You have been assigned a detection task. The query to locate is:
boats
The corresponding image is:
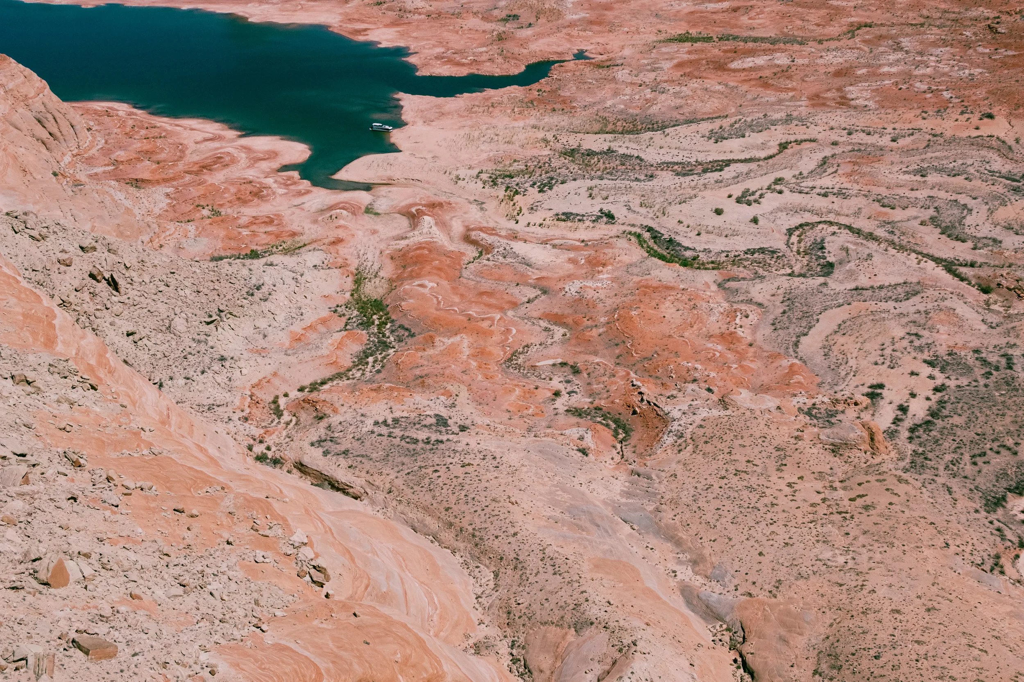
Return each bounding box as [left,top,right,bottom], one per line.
[368,120,392,132]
